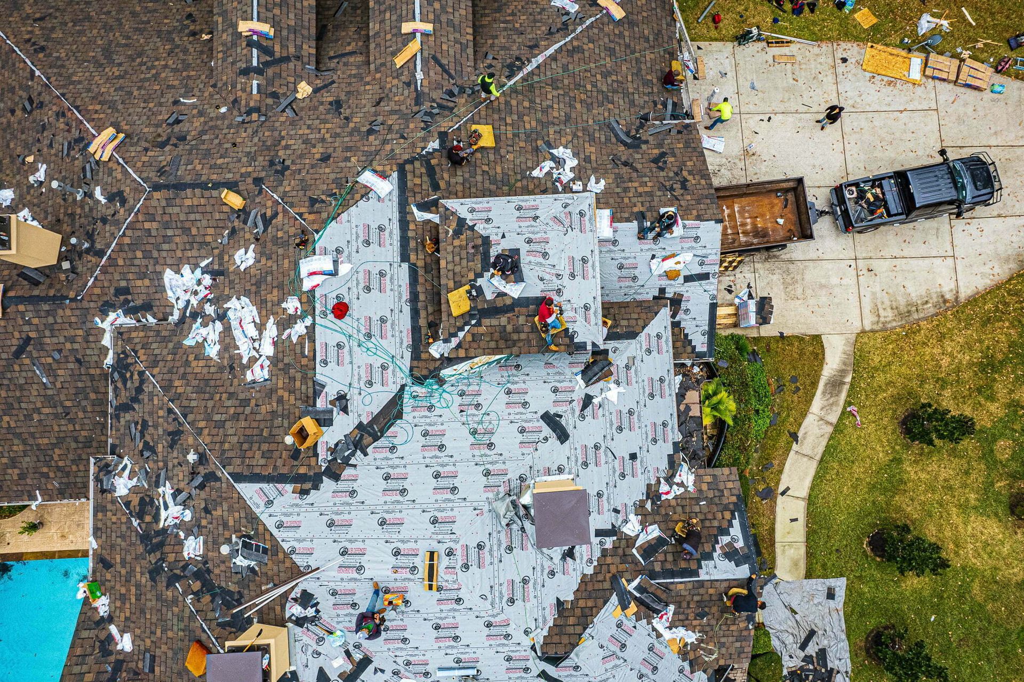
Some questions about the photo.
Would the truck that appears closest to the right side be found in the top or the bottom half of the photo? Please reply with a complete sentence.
The truck that appears closest to the right side sits in the top half of the picture.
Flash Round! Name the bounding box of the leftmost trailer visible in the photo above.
[712,175,833,258]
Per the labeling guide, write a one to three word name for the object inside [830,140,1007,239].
truck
